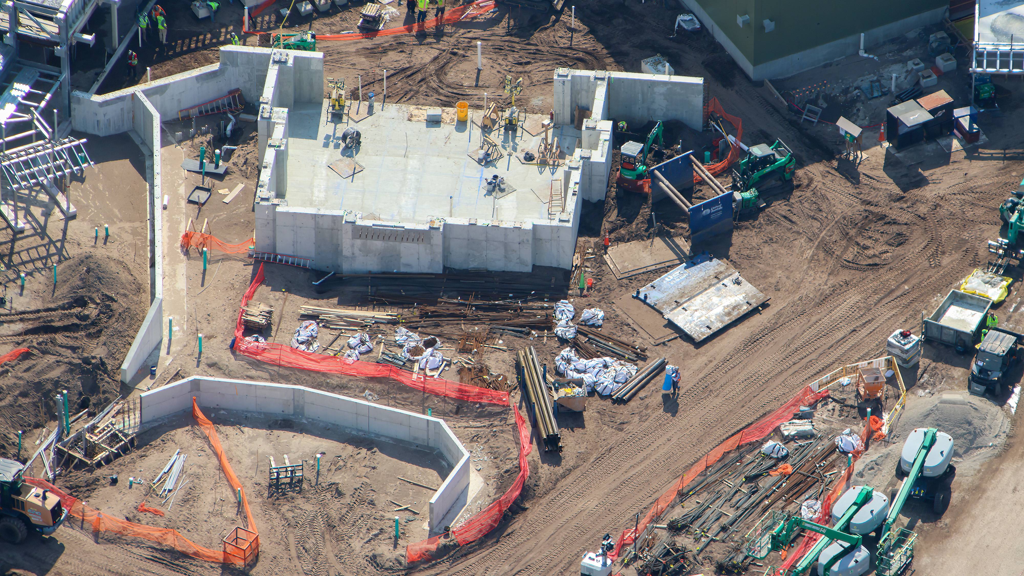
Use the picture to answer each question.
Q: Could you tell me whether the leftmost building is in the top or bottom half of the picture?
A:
top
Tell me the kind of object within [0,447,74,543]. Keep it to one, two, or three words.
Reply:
work vehicle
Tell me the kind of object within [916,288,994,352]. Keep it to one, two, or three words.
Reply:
trailer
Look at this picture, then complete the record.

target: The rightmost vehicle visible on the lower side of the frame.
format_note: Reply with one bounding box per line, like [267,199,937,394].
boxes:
[968,331,1024,400]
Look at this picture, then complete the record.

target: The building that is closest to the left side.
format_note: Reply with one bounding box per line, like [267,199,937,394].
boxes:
[0,0,124,122]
